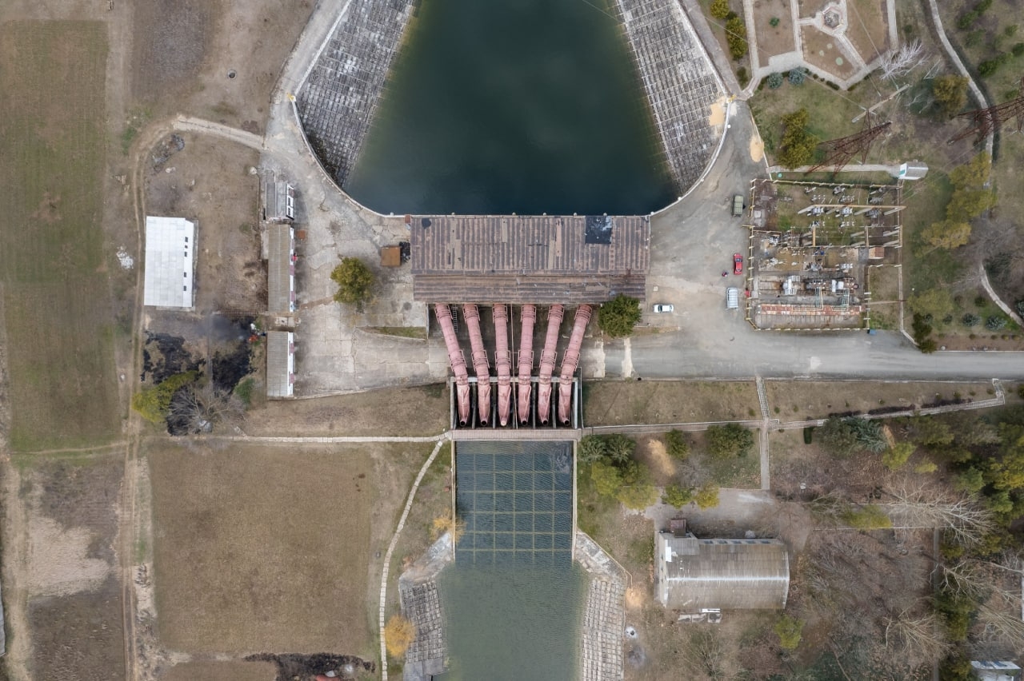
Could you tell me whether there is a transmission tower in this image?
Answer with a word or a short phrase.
Yes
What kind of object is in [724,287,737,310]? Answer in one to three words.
vehicle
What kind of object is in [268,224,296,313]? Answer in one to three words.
building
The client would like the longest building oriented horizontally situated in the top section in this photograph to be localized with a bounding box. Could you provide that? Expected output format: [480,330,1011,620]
[411,216,650,304]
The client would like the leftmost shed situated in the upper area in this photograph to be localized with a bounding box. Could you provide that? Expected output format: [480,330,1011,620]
[145,216,194,308]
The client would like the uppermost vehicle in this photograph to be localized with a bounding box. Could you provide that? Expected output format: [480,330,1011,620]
[731,195,744,217]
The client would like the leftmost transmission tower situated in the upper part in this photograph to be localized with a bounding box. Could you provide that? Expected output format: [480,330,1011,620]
[806,101,891,177]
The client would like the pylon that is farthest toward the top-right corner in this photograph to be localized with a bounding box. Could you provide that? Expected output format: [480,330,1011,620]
[946,69,1024,148]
